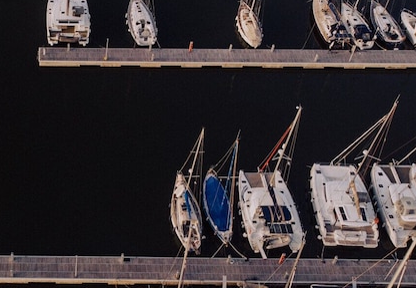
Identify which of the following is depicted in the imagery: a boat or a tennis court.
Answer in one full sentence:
There is a boat in the scene.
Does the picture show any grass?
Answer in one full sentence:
No, there is no grass in the image.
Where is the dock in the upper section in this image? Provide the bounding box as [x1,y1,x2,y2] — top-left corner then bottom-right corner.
[40,47,416,67]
